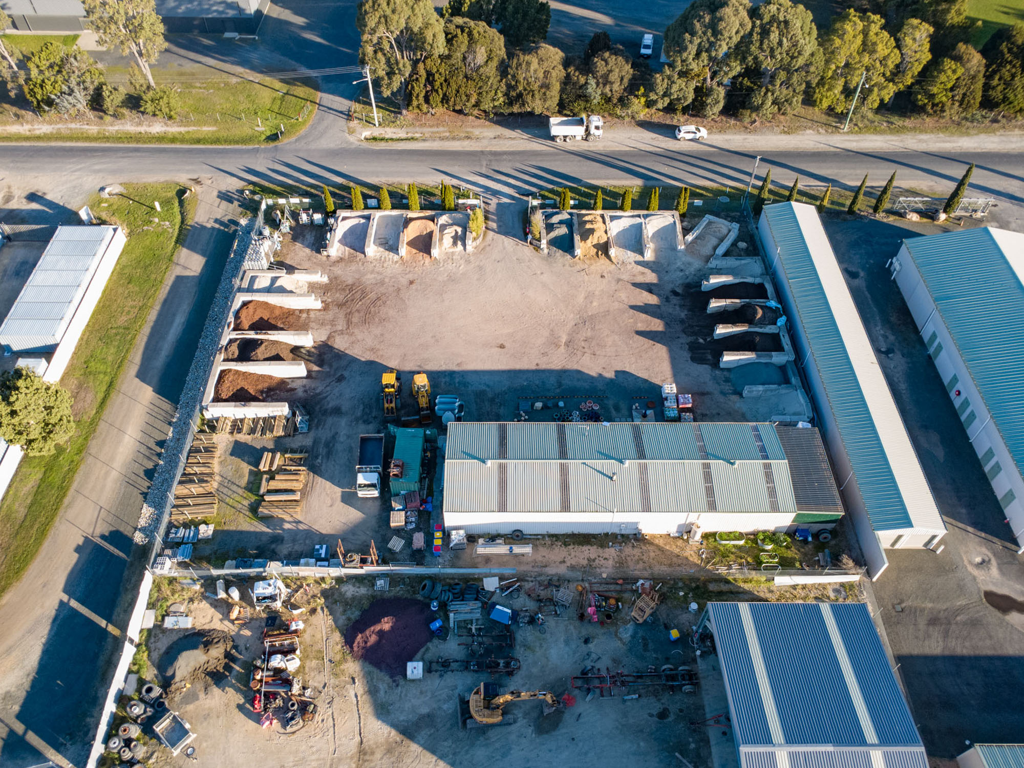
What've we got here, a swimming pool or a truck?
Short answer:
truck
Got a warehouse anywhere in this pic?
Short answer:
Yes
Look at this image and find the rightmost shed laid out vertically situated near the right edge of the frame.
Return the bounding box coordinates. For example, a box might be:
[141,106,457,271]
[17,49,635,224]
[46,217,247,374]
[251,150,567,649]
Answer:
[892,228,1024,551]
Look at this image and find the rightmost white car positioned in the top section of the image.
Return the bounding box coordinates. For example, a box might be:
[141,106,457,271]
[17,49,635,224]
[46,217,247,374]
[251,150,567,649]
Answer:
[676,124,710,141]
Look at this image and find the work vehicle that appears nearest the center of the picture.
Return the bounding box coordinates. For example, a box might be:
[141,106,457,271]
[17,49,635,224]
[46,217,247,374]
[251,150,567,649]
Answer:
[409,366,436,426]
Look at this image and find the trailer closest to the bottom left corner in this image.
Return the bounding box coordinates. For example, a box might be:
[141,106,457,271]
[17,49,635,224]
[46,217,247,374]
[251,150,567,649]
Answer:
[147,711,192,768]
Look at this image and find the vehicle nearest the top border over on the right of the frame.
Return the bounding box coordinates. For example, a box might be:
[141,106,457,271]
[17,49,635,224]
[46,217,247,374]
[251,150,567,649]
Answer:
[640,34,655,56]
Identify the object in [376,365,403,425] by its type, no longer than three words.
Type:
work vehicle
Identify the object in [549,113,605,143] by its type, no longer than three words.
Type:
truck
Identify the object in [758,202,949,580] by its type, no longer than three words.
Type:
shed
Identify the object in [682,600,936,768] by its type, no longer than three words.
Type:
building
